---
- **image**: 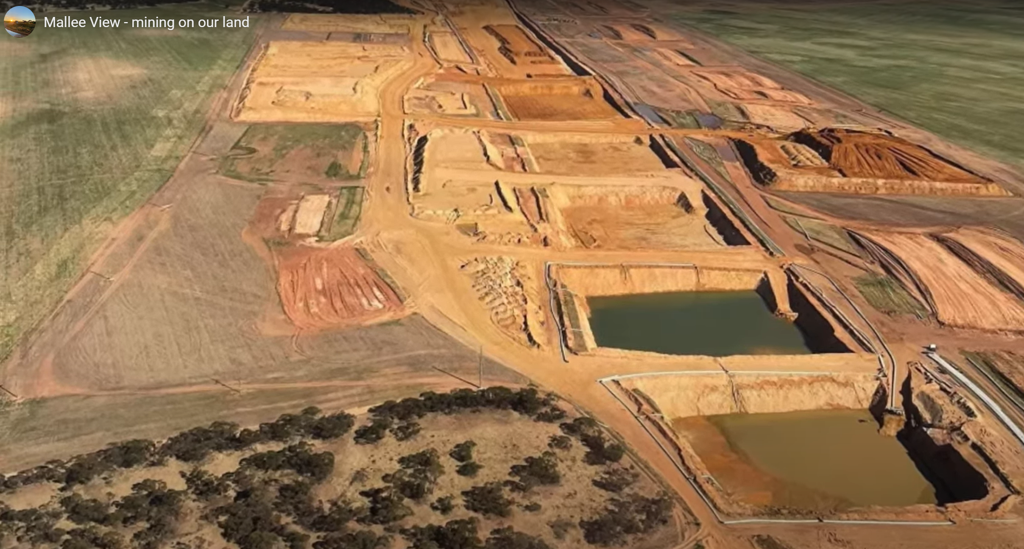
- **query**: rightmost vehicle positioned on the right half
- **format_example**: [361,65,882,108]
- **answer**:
[925,341,939,355]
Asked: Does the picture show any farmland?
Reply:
Yes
